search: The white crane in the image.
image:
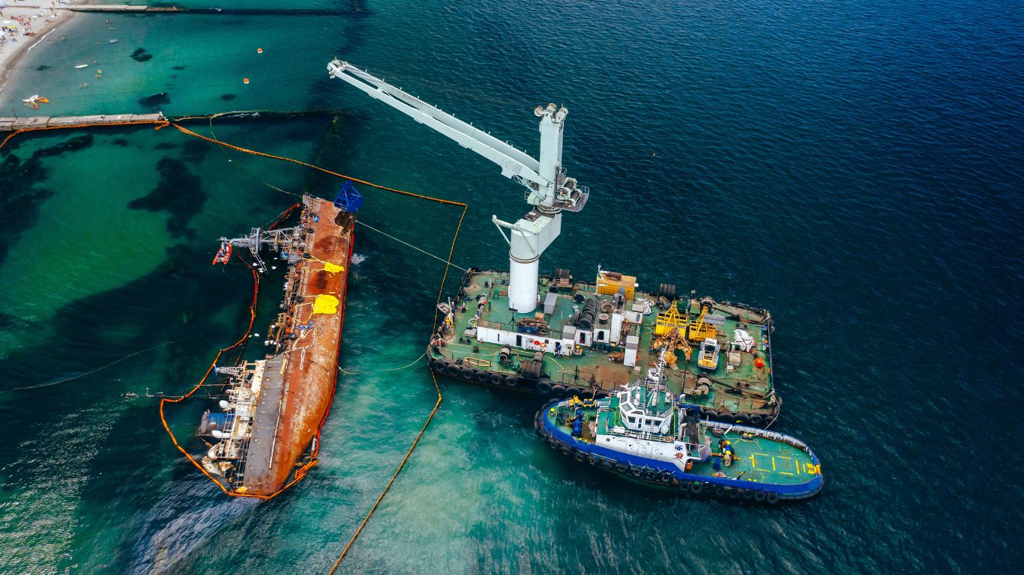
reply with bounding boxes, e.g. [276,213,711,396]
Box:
[325,58,592,312]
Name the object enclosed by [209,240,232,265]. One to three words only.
boat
